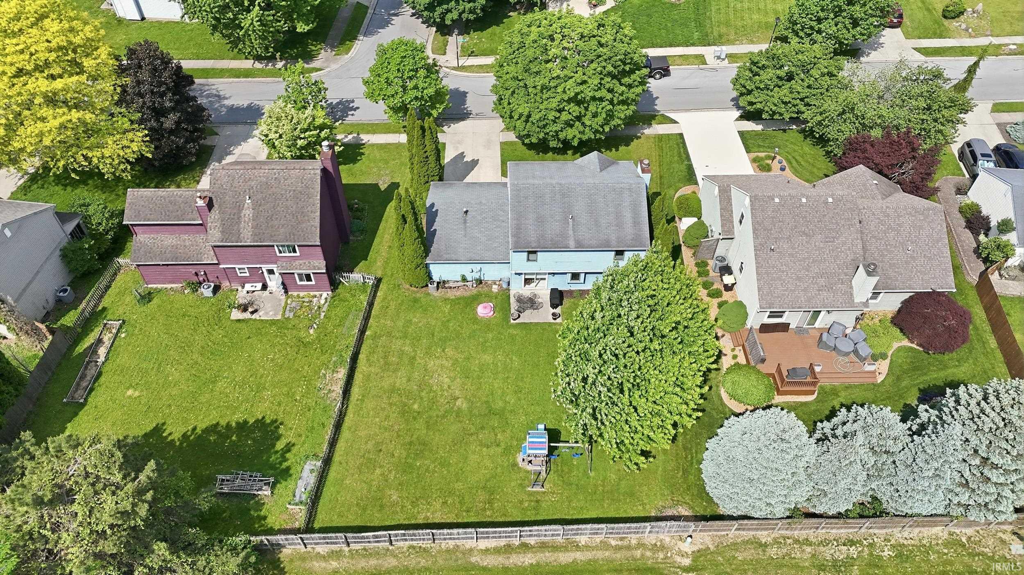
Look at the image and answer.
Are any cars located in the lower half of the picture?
No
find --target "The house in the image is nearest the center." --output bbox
[423,148,653,295]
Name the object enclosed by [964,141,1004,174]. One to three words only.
car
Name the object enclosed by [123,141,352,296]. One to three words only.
house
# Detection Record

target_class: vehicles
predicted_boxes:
[996,146,1024,172]
[964,141,1004,174]
[631,54,675,78]
[883,0,905,21]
